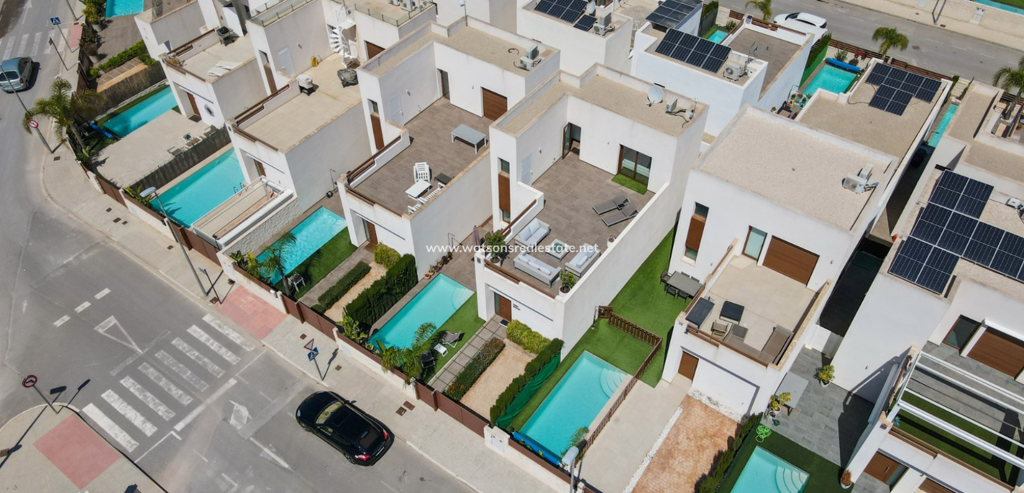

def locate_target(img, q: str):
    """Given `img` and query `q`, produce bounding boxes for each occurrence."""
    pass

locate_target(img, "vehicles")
[295,390,392,468]
[772,14,830,44]
[0,57,32,94]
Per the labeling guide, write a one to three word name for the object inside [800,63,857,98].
swimming pool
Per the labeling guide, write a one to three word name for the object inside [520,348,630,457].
swimming pool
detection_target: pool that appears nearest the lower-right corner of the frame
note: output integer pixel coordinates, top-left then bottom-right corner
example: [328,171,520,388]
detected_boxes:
[732,444,811,493]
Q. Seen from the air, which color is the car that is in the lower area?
black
